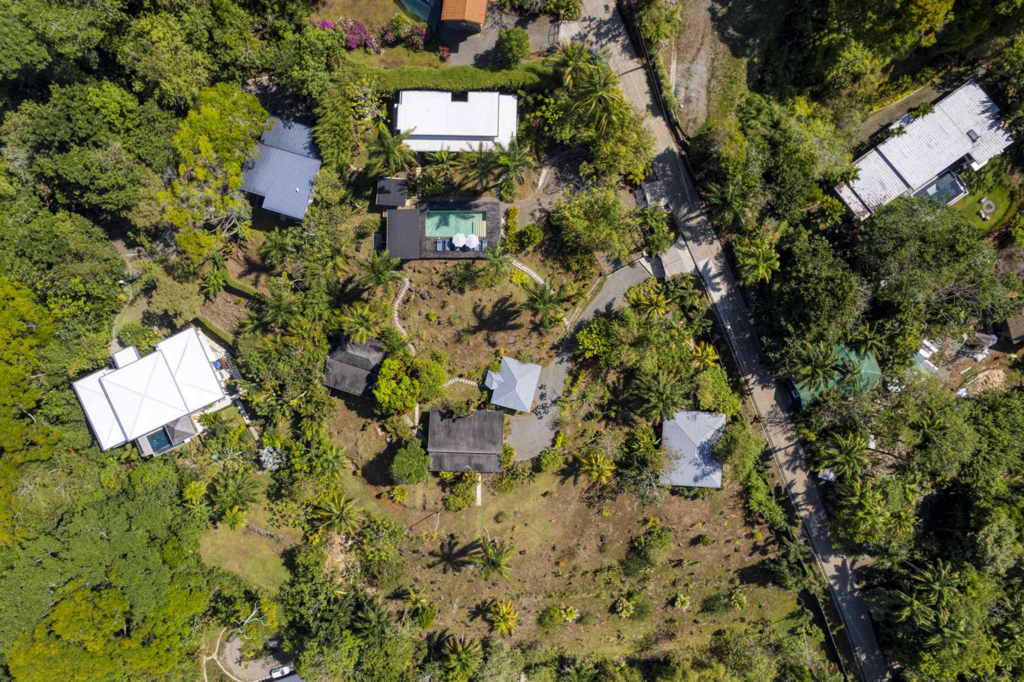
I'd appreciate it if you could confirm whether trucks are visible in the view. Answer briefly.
No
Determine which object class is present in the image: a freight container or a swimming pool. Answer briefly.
swimming pool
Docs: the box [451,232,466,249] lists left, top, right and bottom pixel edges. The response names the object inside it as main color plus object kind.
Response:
white umbrella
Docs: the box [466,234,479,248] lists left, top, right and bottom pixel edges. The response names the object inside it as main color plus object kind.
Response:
white umbrella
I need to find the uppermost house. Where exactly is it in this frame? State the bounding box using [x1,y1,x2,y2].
[441,0,487,33]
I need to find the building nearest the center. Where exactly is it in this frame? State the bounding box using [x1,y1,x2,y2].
[484,356,541,413]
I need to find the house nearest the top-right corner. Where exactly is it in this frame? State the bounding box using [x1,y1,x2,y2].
[835,80,1013,220]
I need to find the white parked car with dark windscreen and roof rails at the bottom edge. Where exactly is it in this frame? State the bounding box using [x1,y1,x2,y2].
[268,663,292,681]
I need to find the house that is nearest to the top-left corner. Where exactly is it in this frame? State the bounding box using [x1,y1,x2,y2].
[243,116,321,218]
